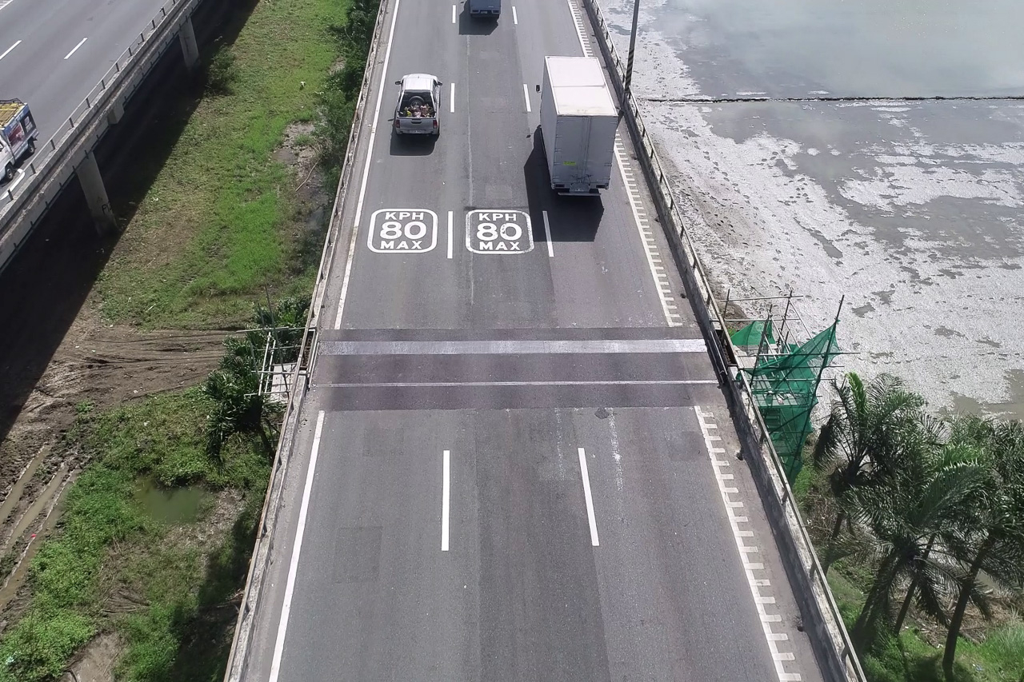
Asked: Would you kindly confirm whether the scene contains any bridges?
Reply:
Yes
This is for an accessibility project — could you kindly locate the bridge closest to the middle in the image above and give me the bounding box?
[219,0,866,682]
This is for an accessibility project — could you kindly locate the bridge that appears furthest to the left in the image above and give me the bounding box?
[0,0,214,283]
